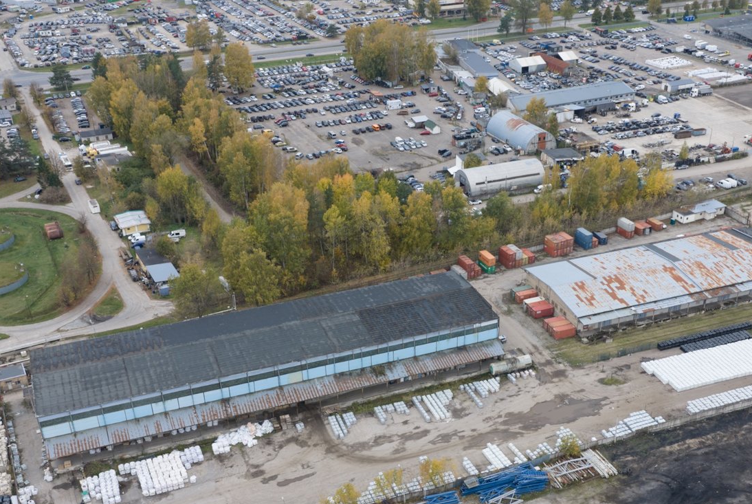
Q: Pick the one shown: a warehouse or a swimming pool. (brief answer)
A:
warehouse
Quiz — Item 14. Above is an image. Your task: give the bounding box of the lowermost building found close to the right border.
[524,222,752,347]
